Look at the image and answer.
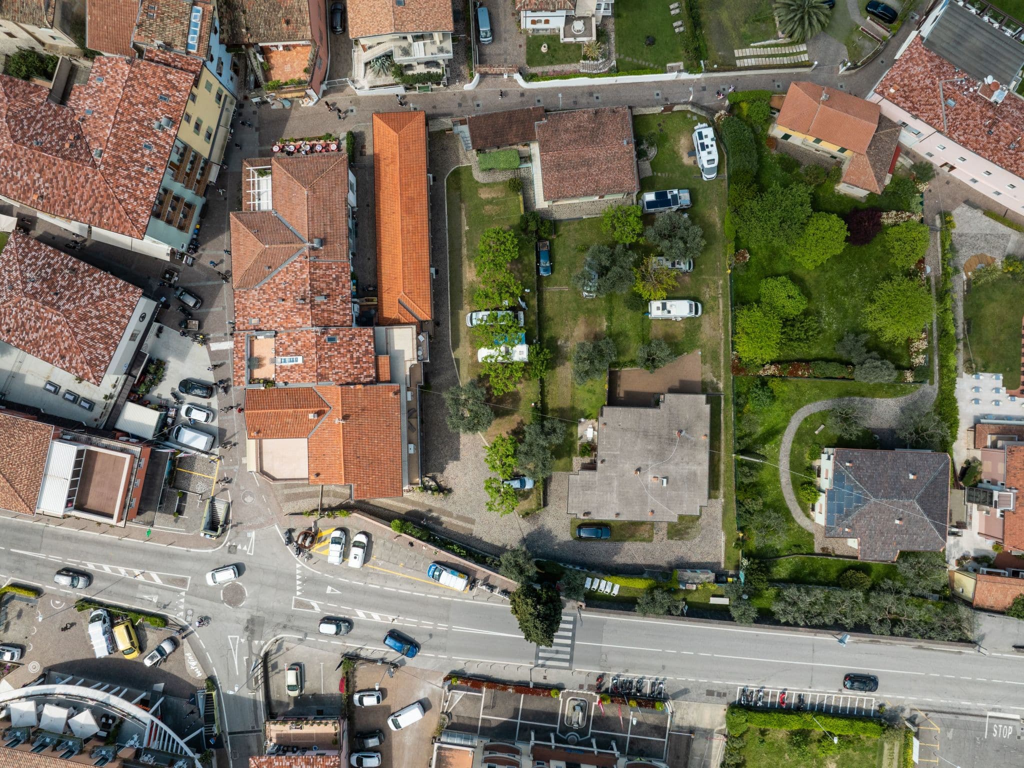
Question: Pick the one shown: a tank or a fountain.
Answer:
fountain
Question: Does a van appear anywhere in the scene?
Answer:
Yes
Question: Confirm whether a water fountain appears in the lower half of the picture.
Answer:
Yes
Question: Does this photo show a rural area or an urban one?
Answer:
urban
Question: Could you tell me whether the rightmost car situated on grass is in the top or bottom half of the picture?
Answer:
top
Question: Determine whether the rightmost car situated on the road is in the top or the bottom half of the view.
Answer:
bottom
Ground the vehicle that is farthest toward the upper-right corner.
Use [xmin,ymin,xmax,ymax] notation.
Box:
[861,1,900,27]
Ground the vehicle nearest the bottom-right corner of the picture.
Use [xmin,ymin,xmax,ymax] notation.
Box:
[840,672,876,692]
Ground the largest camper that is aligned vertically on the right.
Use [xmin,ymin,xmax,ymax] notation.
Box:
[689,121,719,184]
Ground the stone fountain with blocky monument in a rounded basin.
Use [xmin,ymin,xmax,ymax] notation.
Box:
[566,693,590,727]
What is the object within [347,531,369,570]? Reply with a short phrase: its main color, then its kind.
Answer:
white vehicle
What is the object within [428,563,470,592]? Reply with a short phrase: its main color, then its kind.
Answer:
white van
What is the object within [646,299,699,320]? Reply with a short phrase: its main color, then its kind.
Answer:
white camper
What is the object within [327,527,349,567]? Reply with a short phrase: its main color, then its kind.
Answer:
white car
